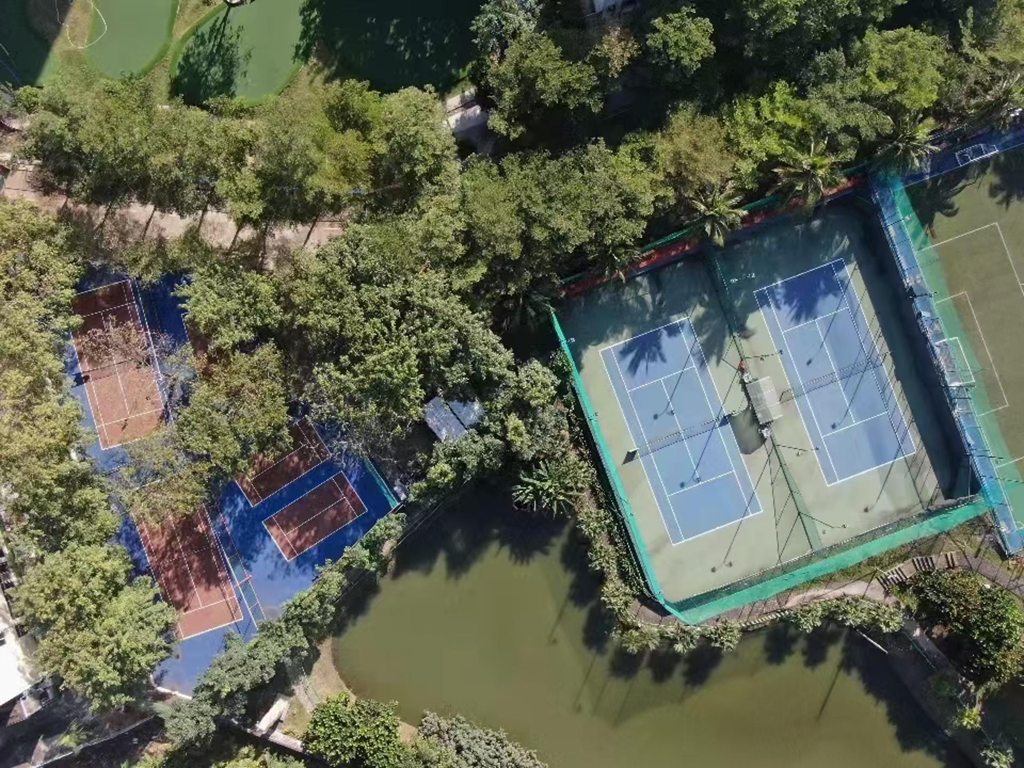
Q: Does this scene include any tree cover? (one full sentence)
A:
Yes, some tree cover is visible.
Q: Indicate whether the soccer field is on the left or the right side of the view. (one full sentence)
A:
It is on the right.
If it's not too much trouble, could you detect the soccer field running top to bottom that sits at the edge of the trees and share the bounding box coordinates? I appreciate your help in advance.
[861,115,1024,555]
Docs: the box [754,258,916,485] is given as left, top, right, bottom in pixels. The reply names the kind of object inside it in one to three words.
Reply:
tennis court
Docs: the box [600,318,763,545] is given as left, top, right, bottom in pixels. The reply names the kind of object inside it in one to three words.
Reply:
tennis court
